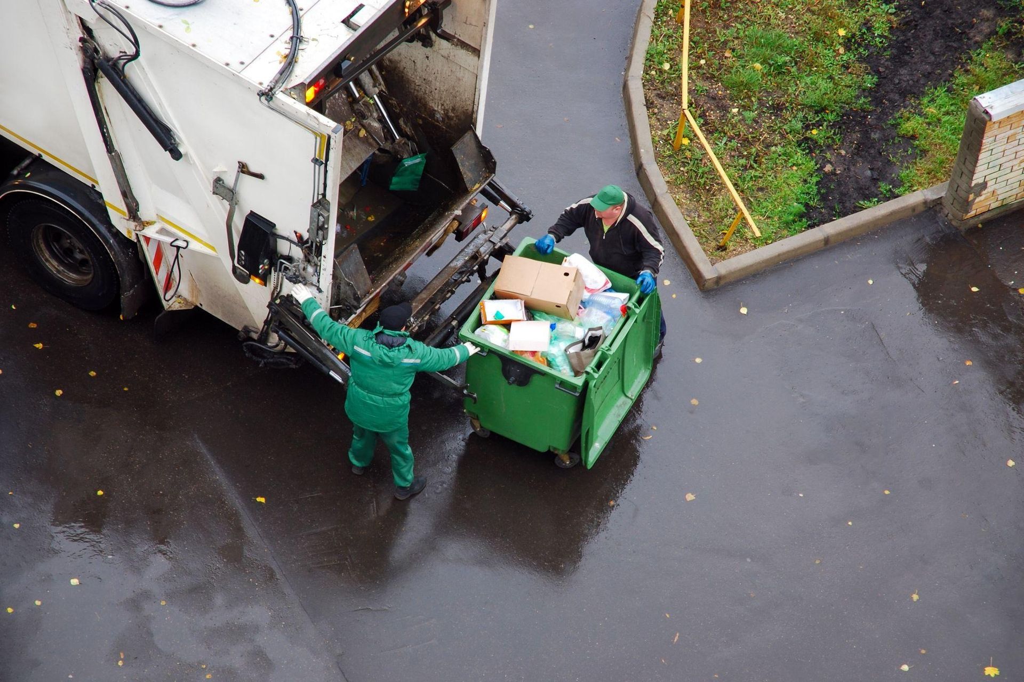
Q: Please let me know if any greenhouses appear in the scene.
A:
No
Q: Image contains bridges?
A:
No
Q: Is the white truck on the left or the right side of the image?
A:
left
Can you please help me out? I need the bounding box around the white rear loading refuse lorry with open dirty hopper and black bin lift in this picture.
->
[0,0,537,406]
